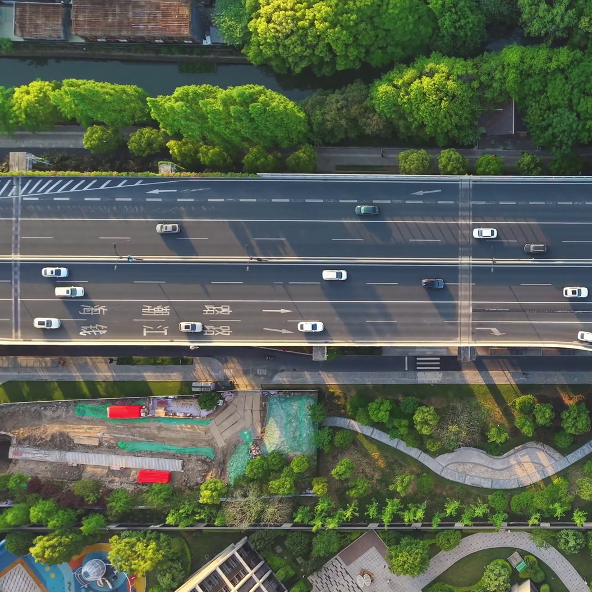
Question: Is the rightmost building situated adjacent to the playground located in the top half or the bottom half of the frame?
bottom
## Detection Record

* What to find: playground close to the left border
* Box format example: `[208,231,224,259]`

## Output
[0,538,148,592]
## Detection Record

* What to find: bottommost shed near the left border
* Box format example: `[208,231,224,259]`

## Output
[9,445,187,471]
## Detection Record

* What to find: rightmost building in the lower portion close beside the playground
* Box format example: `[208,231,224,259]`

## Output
[184,537,290,592]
